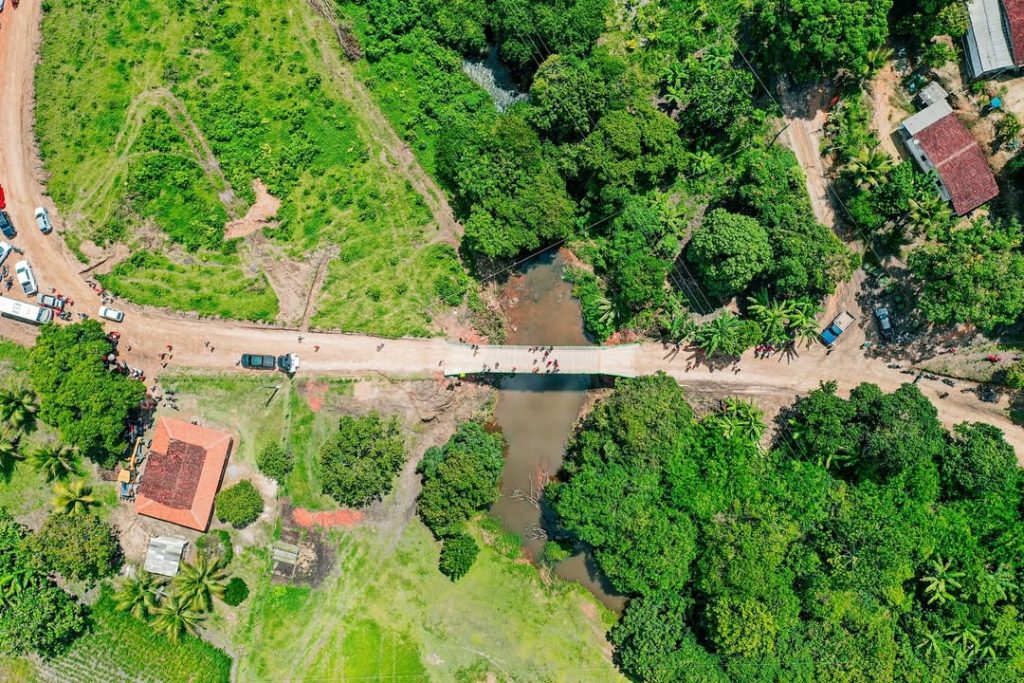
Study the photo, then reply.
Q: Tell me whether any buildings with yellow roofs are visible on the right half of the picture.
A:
No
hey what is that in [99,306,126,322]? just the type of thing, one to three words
car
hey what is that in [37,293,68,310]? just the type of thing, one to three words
vehicle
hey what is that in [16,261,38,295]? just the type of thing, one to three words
truck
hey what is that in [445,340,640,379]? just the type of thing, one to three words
bridge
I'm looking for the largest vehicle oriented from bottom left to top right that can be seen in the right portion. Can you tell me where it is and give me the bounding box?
[822,311,855,344]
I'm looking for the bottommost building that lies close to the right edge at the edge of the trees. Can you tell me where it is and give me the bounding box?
[896,100,999,215]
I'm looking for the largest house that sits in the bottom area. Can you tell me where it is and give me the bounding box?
[136,416,235,532]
